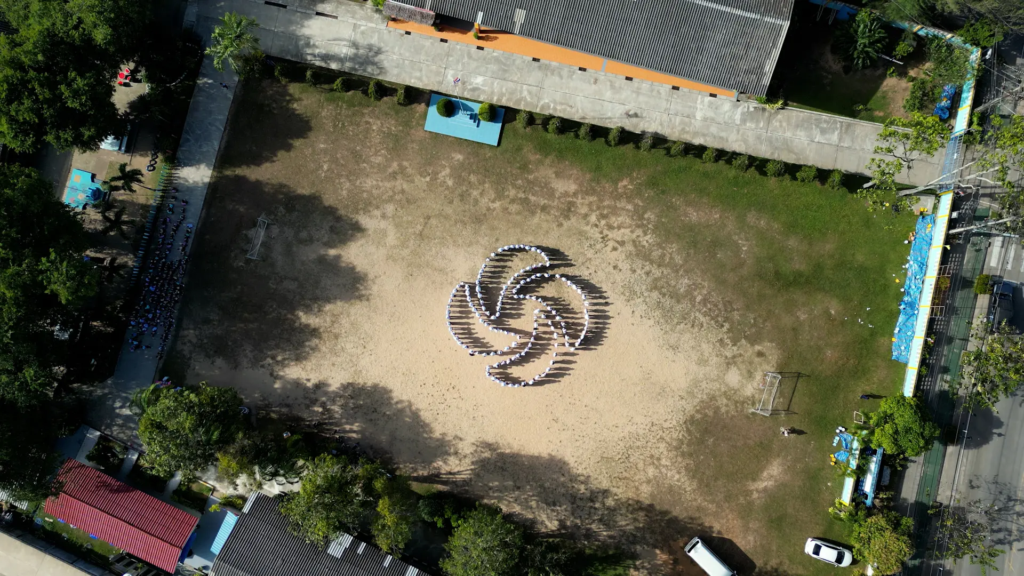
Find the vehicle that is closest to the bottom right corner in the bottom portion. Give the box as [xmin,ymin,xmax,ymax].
[804,538,852,567]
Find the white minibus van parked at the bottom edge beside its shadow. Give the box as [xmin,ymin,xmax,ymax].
[683,535,737,576]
